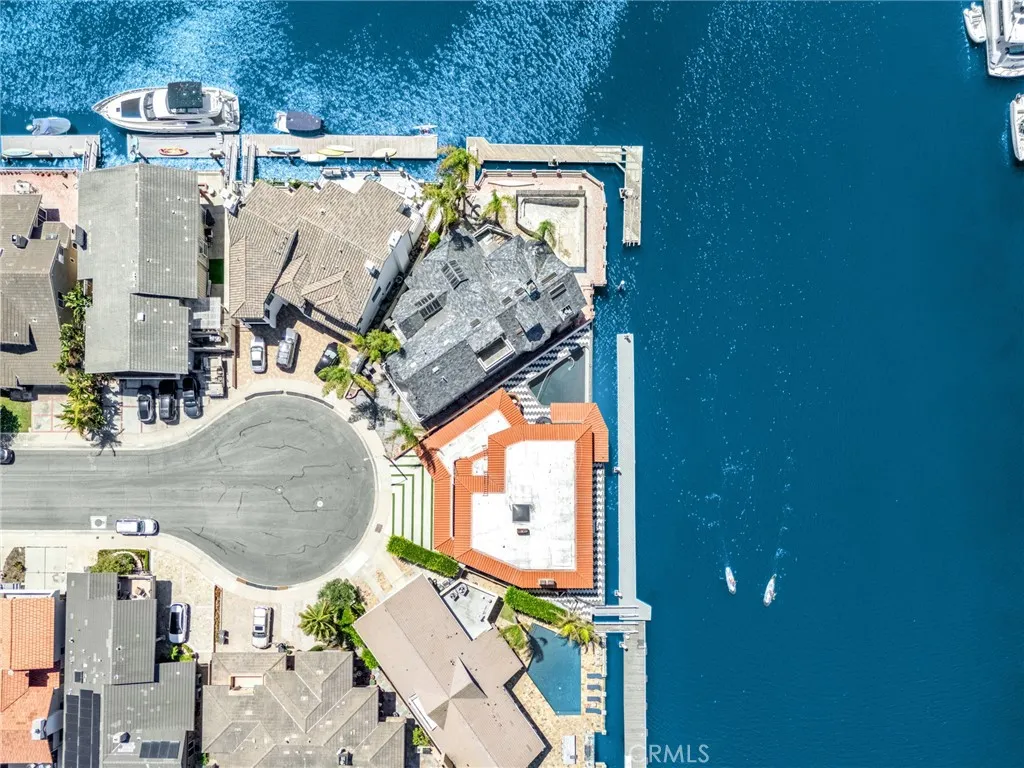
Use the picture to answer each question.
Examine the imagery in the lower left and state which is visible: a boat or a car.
car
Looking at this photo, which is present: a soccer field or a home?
home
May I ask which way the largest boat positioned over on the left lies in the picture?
from side to side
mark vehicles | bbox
[312,340,340,378]
[118,516,160,536]
[170,602,192,641]
[248,334,269,374]
[182,377,203,417]
[350,351,369,374]
[156,380,179,421]
[253,606,274,647]
[276,328,301,371]
[136,386,157,422]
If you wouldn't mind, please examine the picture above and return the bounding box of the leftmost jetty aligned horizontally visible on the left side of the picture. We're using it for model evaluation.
[1,135,102,159]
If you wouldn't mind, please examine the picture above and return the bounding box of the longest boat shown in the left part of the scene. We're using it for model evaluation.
[90,84,243,134]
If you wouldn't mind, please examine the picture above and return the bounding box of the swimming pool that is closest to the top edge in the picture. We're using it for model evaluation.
[514,190,589,273]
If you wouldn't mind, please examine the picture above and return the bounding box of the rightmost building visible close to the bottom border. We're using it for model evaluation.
[353,574,545,768]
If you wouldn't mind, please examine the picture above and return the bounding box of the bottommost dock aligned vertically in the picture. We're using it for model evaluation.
[623,620,647,768]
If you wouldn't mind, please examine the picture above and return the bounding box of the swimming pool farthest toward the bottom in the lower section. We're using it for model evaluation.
[524,620,583,716]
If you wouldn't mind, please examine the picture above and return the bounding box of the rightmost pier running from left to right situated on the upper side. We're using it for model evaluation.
[466,137,626,173]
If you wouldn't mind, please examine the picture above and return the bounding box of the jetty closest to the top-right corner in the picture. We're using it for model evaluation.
[623,146,643,246]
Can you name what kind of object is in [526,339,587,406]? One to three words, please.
swimming pool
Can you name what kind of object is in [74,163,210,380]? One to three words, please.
house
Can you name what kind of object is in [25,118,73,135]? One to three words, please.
boat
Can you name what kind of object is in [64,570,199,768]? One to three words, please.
house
